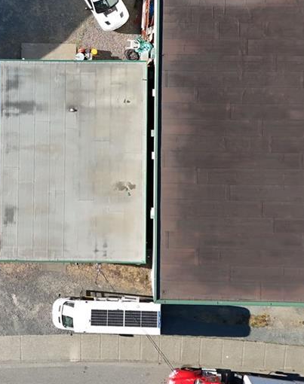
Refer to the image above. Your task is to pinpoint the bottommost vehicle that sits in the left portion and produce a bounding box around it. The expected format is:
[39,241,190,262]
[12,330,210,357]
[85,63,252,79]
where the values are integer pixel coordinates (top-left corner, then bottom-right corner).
[53,292,160,338]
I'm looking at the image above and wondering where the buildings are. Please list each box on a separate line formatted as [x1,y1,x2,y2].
[150,0,304,306]
[0,60,148,269]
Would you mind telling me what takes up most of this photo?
buildings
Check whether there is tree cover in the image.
No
